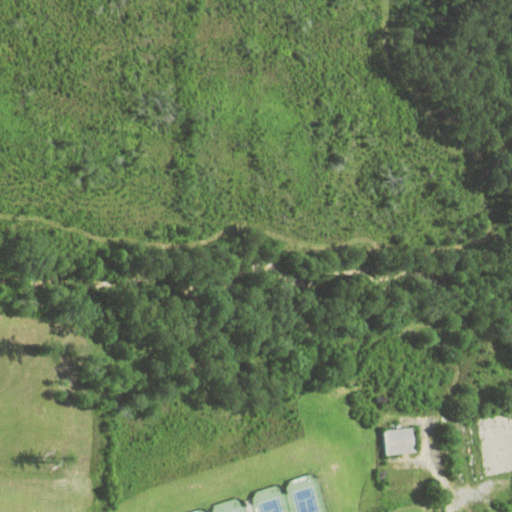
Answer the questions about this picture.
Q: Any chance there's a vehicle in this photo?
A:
No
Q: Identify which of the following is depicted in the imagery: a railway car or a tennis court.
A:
tennis court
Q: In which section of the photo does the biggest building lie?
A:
bottom right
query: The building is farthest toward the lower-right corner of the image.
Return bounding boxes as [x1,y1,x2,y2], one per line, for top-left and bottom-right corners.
[384,428,416,456]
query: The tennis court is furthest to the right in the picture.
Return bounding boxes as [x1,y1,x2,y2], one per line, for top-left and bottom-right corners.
[284,476,326,512]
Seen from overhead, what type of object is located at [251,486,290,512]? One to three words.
tennis court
